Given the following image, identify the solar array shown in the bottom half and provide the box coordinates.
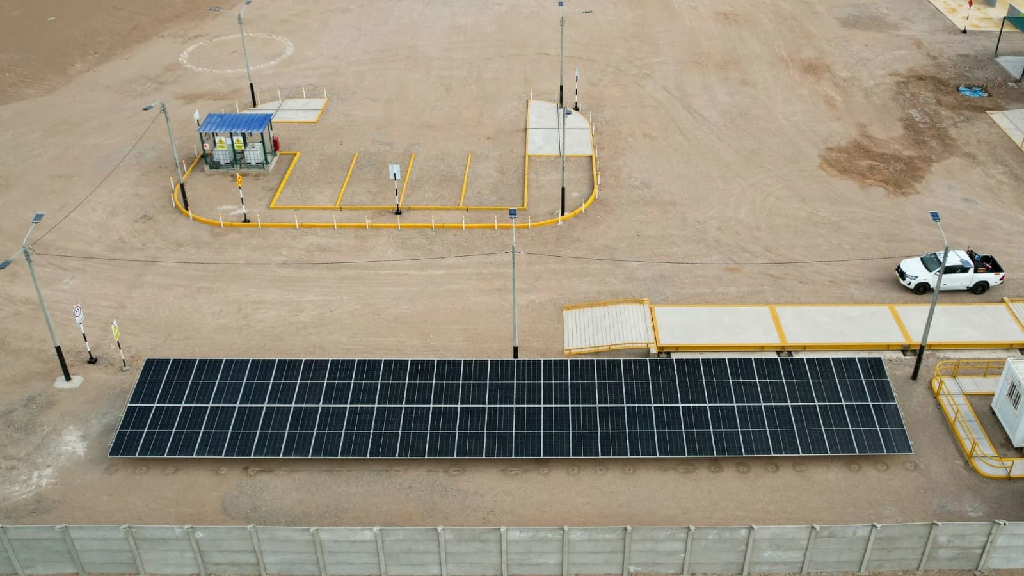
[110,358,913,457]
